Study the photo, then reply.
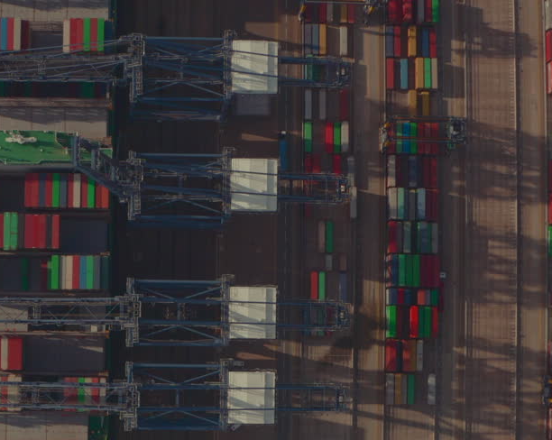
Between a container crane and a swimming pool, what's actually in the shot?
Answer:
container crane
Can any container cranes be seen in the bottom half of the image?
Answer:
Yes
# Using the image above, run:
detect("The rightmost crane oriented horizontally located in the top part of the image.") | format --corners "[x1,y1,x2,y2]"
[377,114,470,157]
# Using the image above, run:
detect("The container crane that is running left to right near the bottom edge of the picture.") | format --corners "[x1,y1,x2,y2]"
[0,352,350,433]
